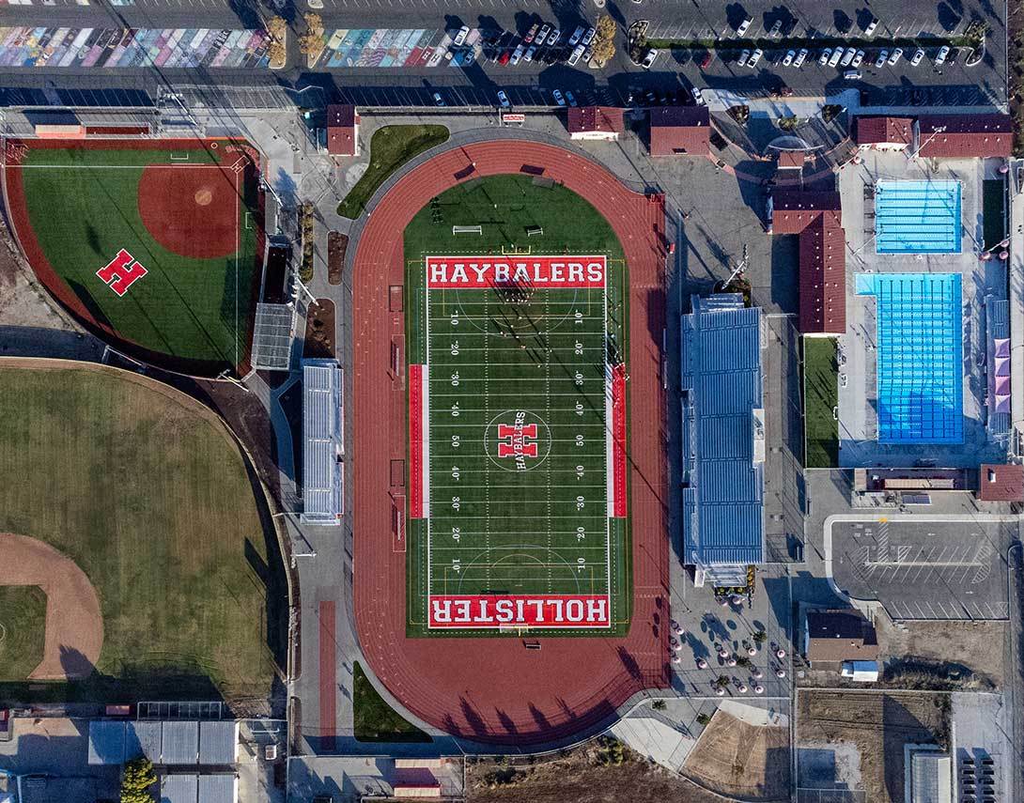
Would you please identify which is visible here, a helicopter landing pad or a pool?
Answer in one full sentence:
Looking from above, you can make out a pool.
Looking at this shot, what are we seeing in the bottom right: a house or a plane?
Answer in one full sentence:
What appears in the bottom right is a house.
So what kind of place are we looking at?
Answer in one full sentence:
It's a sports ground.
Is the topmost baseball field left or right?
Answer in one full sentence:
The topmost baseball field sits on the left side.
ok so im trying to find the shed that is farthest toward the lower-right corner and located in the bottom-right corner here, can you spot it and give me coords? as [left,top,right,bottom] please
[900,741,950,803]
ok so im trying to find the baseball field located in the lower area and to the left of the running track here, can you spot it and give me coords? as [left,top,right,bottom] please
[0,358,289,721]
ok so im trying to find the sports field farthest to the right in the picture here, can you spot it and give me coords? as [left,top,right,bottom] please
[403,174,628,638]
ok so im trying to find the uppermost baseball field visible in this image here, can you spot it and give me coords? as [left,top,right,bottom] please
[5,138,264,380]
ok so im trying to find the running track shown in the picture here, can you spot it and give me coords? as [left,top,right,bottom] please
[352,140,666,745]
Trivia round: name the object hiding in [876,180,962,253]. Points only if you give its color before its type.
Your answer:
blue swimming pool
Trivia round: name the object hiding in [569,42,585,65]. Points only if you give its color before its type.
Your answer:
white vehicle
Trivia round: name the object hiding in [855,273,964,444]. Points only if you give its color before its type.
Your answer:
blue swimming pool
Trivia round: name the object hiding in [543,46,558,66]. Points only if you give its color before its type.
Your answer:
black car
